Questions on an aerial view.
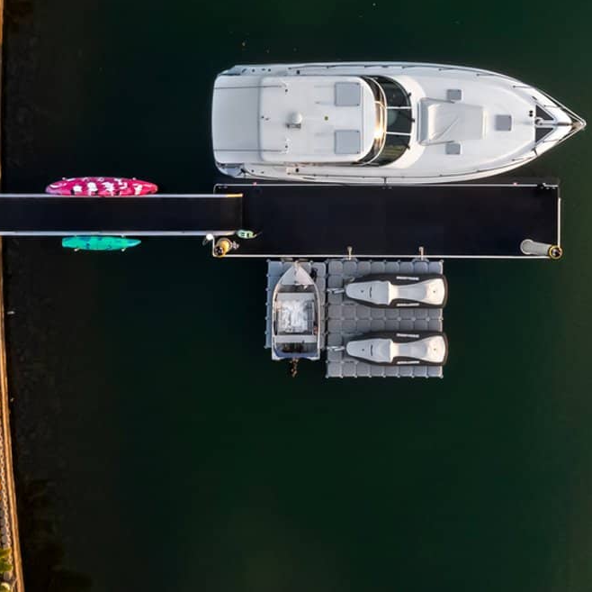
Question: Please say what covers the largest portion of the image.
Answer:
water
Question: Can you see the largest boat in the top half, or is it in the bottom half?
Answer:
top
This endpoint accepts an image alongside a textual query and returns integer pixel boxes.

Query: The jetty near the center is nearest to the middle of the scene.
[266,260,327,350]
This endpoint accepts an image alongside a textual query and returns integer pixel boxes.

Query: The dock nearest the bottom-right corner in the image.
[325,260,444,379]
